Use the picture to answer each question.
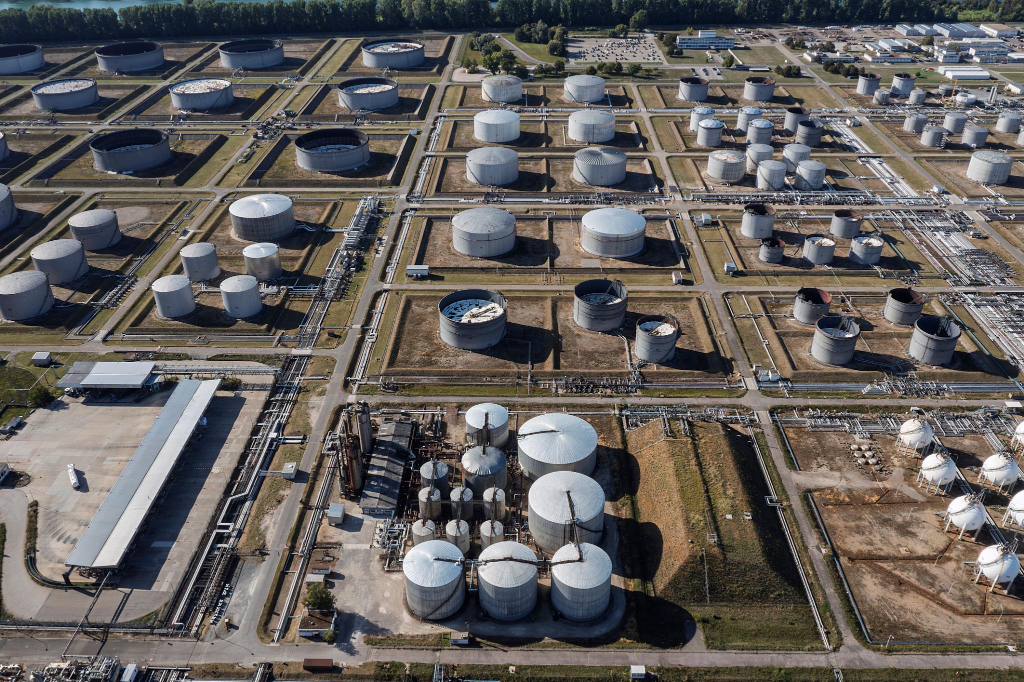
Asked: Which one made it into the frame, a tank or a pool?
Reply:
tank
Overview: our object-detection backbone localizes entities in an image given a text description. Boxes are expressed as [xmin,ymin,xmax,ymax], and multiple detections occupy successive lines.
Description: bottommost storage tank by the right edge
[963,530,1019,594]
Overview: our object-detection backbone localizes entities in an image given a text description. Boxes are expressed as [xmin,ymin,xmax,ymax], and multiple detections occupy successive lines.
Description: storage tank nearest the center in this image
[437,290,509,350]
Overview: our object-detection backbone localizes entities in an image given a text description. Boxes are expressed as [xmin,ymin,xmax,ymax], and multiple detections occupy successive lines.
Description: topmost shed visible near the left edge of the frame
[29,348,59,366]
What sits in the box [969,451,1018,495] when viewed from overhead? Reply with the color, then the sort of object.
white storage tank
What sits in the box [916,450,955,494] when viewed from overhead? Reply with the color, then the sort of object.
white storage tank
